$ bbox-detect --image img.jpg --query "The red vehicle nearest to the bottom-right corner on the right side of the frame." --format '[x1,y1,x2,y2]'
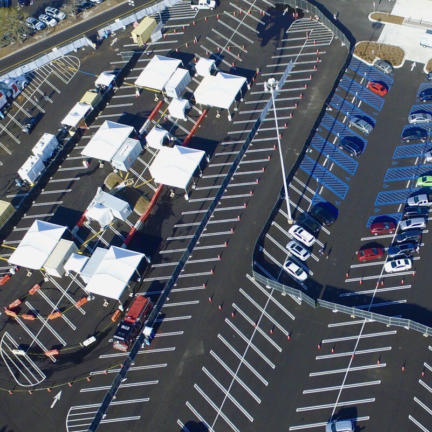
[355,246,386,261]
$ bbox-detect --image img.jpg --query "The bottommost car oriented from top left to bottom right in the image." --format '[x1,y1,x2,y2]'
[283,258,309,282]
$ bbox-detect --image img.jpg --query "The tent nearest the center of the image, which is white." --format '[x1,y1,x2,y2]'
[154,145,207,197]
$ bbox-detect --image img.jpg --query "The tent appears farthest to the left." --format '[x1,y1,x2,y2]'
[8,220,72,278]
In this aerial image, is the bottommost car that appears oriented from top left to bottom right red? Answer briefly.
No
